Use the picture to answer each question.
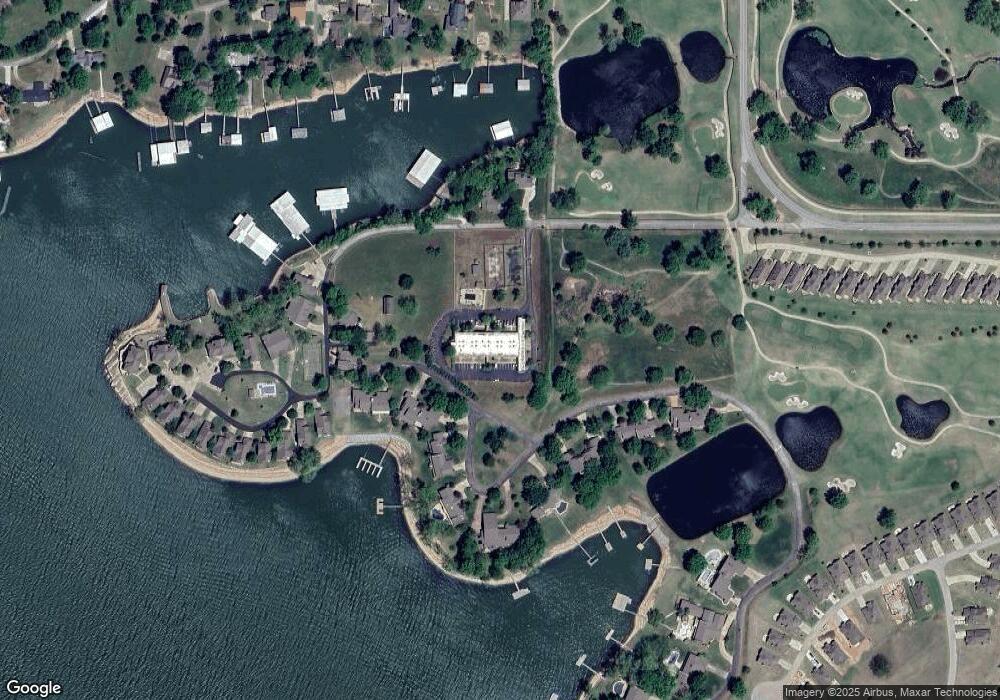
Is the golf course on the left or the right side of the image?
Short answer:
right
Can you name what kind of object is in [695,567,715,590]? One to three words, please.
swimming pool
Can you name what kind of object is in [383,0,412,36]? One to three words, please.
house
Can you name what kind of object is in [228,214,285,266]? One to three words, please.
pier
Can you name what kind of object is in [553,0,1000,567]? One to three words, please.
golf course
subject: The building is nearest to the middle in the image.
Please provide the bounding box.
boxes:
[450,317,525,372]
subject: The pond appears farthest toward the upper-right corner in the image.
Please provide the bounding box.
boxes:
[783,27,917,139]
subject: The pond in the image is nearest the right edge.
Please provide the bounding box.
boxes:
[896,395,950,439]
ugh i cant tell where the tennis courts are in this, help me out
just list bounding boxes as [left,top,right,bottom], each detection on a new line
[304,345,322,381]
[484,245,503,286]
[504,245,522,285]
